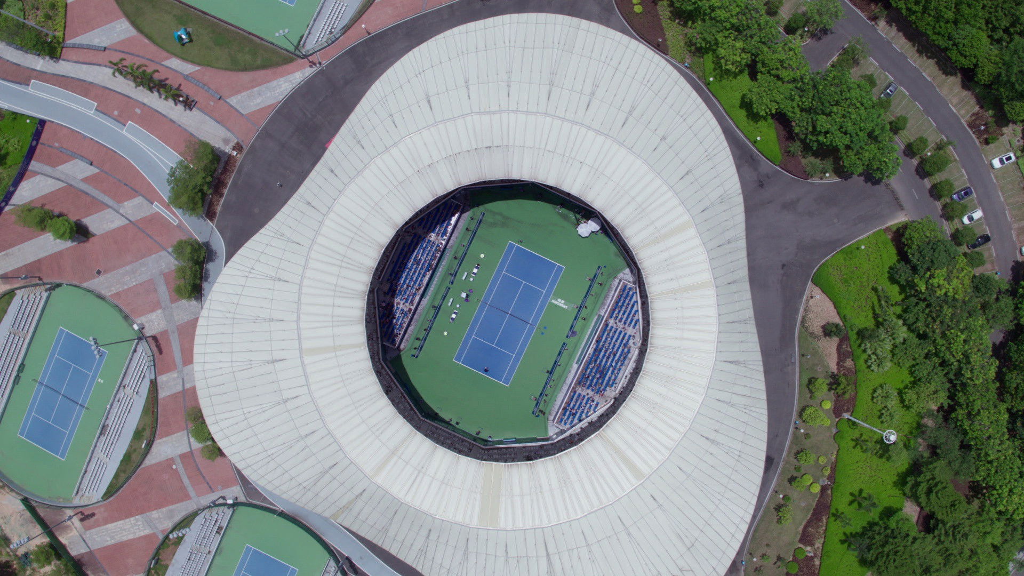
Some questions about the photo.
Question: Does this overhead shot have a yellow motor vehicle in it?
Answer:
No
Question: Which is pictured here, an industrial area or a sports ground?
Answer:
sports ground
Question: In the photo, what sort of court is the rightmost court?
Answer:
tennis court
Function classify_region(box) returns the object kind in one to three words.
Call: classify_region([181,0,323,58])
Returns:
tennis court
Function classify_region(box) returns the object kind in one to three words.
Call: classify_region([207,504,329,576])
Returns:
tennis court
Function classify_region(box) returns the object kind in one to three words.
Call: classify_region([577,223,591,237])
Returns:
umbrella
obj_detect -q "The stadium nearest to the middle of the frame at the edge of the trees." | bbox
[193,13,768,576]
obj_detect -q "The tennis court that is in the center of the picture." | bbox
[381,185,631,440]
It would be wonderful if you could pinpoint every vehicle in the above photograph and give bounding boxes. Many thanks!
[990,151,1016,169]
[878,80,901,100]
[950,185,975,200]
[967,233,992,250]
[960,208,985,224]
